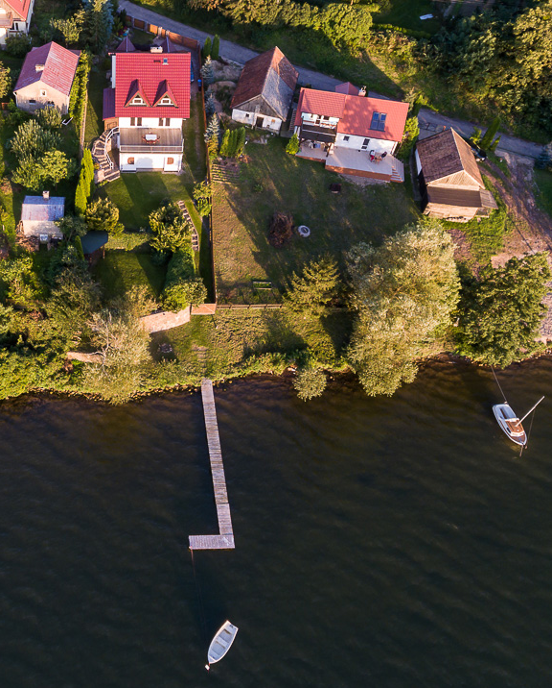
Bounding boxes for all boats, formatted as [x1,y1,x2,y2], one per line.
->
[209,619,239,664]
[492,391,536,455]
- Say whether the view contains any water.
Yes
